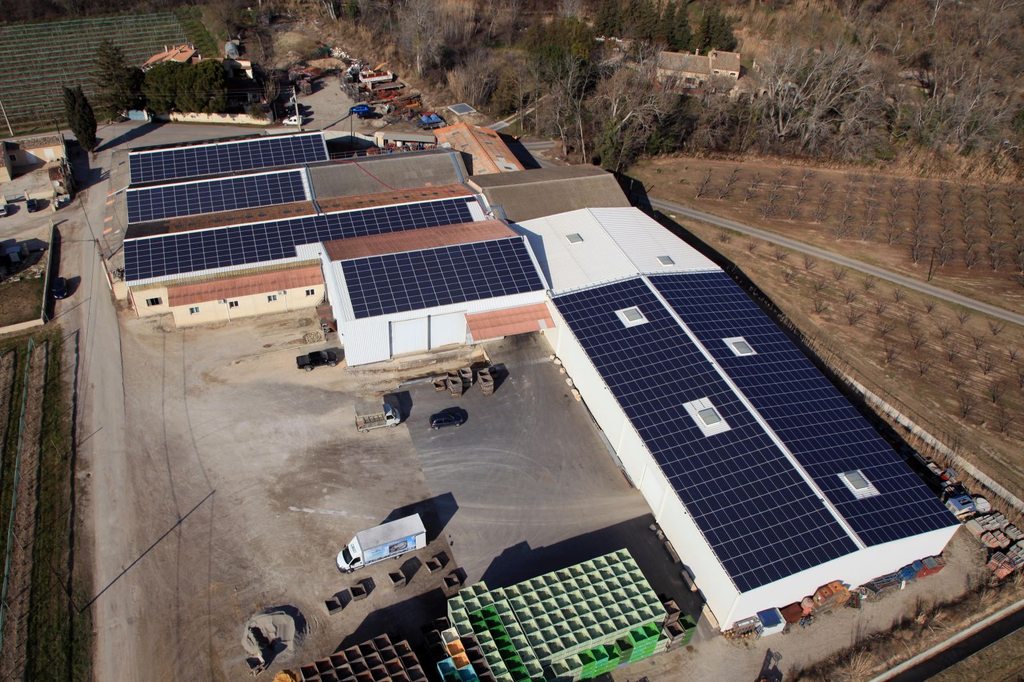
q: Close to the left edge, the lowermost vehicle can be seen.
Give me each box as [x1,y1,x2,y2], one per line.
[49,272,67,297]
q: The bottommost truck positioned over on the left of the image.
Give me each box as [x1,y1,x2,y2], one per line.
[333,513,421,573]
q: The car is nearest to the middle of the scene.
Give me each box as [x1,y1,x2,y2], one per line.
[428,409,462,429]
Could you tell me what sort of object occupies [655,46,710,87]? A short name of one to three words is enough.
house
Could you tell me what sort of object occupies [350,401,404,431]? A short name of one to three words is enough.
truck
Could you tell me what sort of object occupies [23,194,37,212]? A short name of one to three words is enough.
car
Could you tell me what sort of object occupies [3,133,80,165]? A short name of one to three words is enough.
house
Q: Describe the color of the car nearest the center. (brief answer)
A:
black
